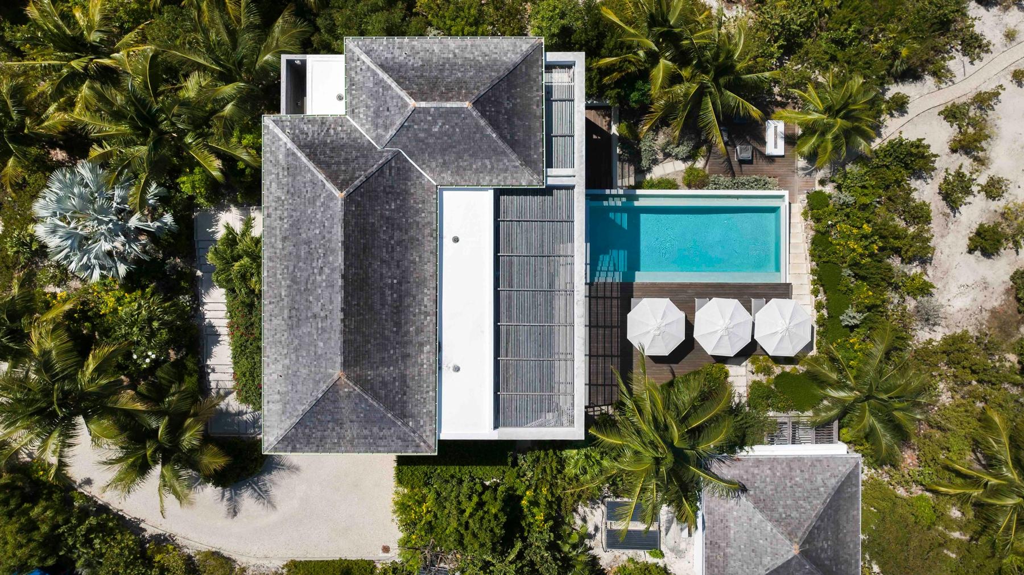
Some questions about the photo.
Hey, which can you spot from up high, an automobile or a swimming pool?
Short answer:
swimming pool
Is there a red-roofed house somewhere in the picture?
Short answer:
No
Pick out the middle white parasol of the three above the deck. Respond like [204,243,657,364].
[693,298,753,357]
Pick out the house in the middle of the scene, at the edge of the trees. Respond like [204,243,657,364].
[261,35,589,456]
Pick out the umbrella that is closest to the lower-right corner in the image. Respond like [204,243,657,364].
[753,298,812,357]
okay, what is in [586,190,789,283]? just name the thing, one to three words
swimming pool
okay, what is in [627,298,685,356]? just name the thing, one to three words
umbrella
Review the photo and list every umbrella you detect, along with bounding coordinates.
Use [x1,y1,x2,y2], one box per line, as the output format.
[627,298,685,356]
[753,298,812,357]
[693,298,753,357]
